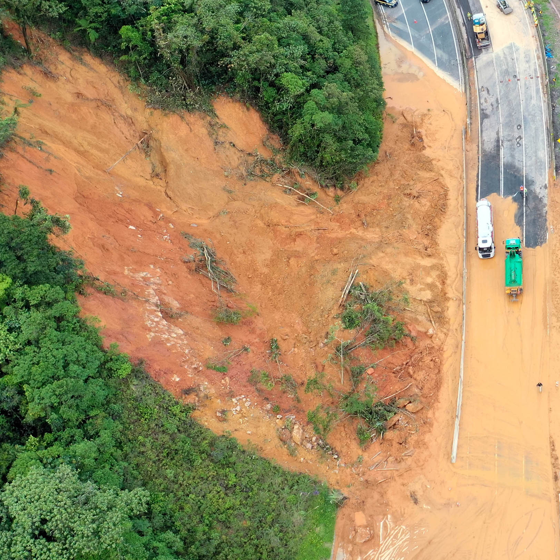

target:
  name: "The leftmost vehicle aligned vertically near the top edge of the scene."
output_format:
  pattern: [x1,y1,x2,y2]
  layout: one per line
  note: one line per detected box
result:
[472,14,490,48]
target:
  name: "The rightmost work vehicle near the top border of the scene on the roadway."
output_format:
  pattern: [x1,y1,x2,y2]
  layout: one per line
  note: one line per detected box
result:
[496,0,514,14]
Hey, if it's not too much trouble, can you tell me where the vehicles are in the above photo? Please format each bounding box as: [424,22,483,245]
[373,0,398,8]
[502,238,528,306]
[476,200,497,257]
[496,0,514,14]
[472,14,490,48]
